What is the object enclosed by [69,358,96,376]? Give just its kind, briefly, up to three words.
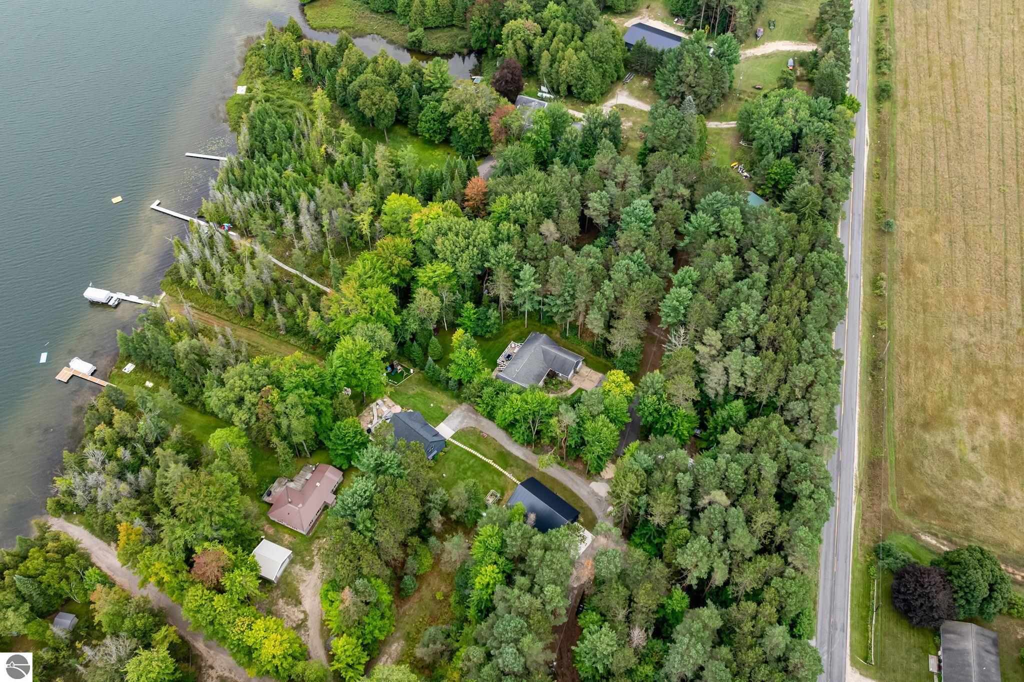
boat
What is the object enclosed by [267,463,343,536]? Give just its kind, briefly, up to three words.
house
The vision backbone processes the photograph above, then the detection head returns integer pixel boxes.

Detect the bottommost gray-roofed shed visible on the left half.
[52,611,79,633]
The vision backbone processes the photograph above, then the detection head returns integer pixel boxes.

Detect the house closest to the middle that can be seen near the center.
[498,331,583,387]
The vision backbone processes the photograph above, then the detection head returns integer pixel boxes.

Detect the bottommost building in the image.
[937,625,1002,682]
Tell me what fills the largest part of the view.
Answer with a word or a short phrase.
trees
